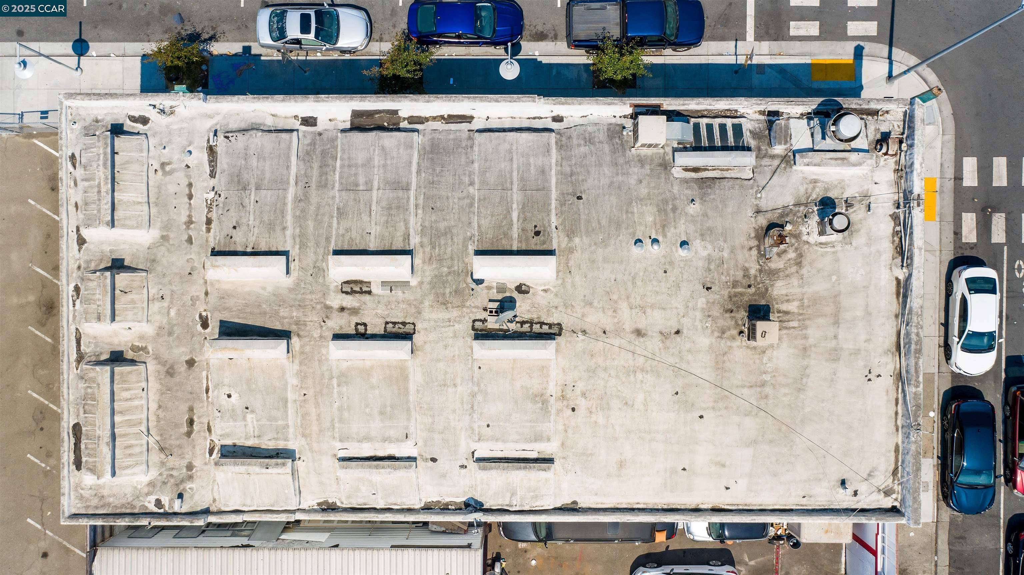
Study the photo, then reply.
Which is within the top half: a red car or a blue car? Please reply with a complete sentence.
The one visible within the top half is a blue car.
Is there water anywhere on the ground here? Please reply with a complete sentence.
No, water can't be seen anywhere here.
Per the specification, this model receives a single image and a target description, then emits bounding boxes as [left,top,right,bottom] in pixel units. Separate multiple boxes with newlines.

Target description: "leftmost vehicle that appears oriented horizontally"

[256,0,374,54]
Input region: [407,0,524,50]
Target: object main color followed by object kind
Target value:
blue car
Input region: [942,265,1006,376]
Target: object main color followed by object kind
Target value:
white car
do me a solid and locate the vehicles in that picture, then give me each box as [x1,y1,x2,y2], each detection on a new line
[1002,529,1024,575]
[634,563,734,575]
[942,265,1006,376]
[680,521,769,549]
[407,0,524,50]
[940,398,1004,513]
[999,381,1024,496]
[561,0,702,55]
[256,0,374,54]
[498,521,678,550]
